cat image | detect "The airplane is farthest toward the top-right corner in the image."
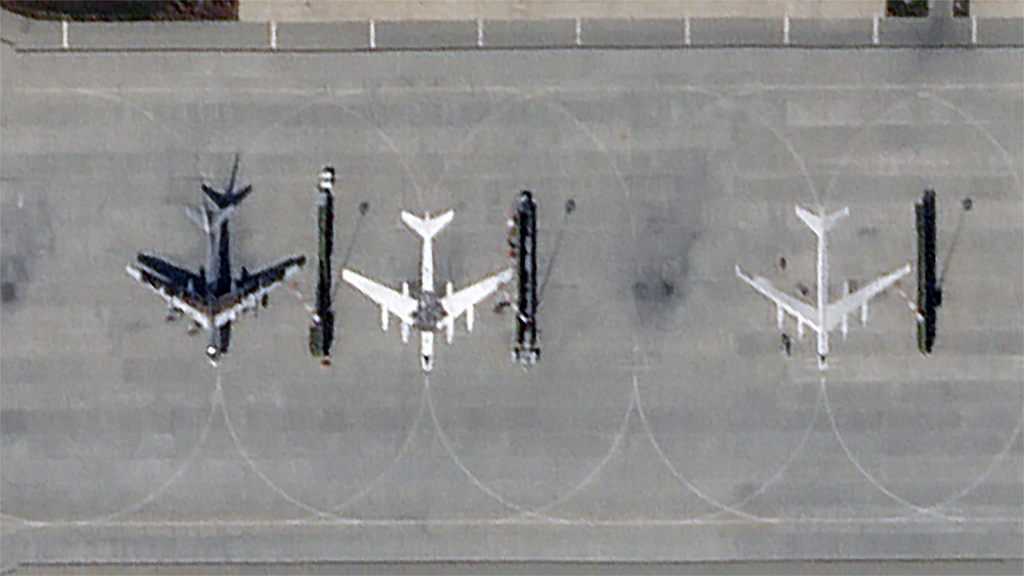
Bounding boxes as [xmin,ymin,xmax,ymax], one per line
[736,205,910,368]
